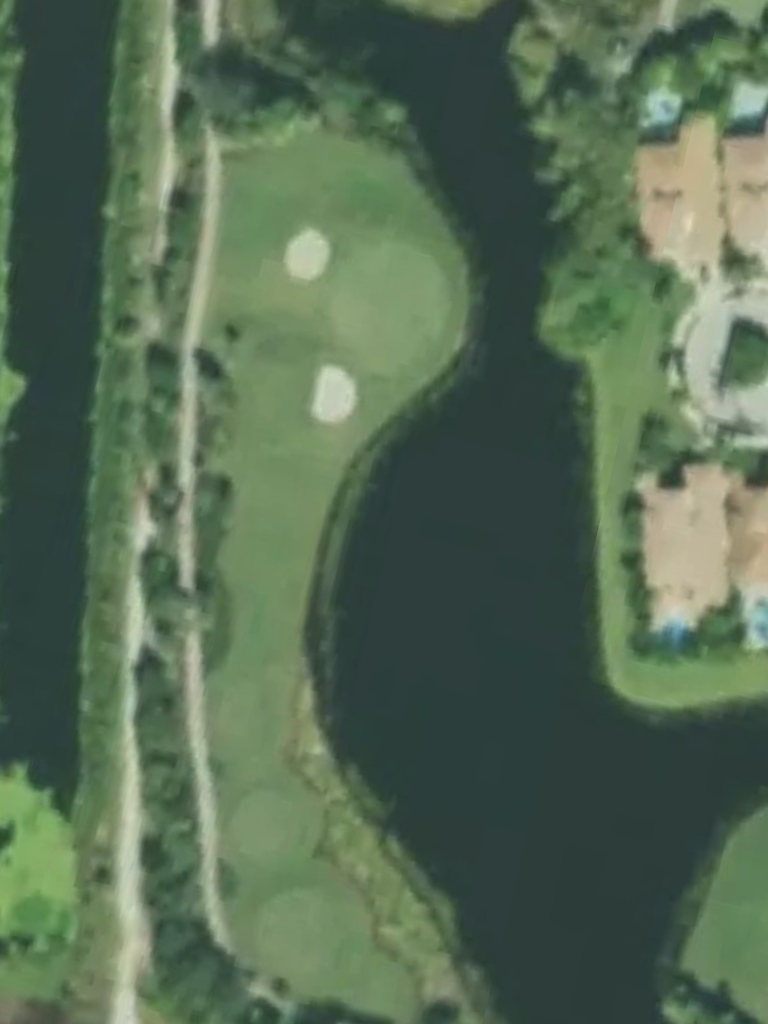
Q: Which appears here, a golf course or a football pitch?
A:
golf course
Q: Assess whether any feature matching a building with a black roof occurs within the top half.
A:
No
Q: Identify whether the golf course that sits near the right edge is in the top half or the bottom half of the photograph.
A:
bottom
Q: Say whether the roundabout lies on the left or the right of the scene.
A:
right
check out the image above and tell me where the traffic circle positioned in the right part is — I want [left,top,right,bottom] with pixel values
[687,284,768,436]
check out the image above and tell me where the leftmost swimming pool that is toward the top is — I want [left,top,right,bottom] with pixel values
[644,91,681,141]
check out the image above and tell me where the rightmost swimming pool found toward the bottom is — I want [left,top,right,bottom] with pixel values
[738,584,768,649]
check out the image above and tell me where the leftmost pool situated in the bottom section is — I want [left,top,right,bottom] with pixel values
[657,615,697,652]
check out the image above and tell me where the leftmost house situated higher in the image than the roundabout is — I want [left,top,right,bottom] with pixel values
[637,112,727,284]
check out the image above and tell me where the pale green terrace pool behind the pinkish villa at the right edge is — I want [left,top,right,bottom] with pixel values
[731,81,768,137]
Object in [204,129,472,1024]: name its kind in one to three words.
golf course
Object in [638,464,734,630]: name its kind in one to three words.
house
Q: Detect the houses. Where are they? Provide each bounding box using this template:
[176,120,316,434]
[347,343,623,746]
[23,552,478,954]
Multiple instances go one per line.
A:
[722,111,768,275]
[729,487,768,586]
[638,464,734,630]
[637,112,727,284]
